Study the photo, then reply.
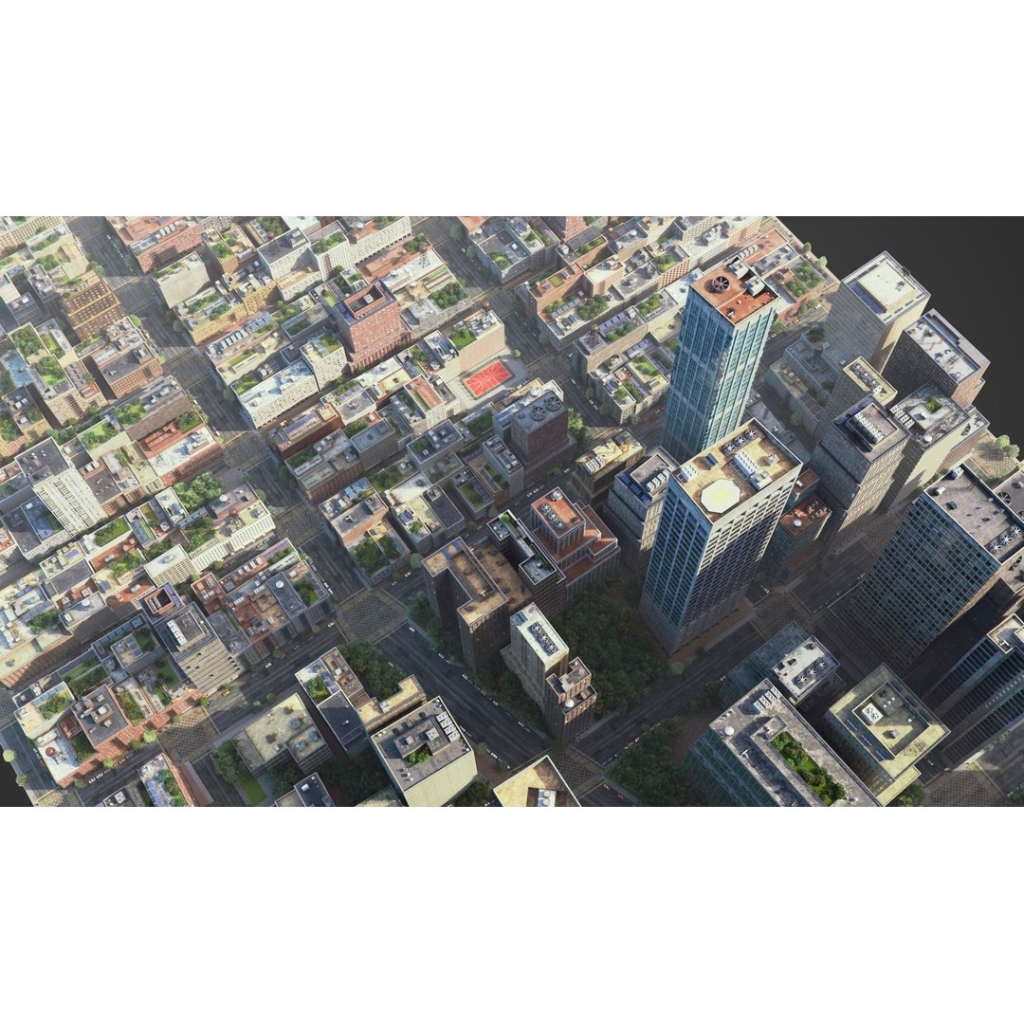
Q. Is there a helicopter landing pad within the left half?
No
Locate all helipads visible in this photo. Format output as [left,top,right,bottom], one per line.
[705,474,743,508]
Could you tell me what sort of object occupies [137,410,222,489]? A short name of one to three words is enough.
building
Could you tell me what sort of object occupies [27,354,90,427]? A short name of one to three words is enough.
building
